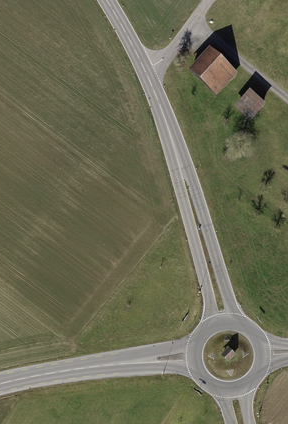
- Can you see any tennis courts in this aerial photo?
No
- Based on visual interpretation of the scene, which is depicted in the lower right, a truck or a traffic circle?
traffic circle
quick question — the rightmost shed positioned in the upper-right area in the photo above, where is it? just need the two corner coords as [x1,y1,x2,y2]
[235,88,266,119]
